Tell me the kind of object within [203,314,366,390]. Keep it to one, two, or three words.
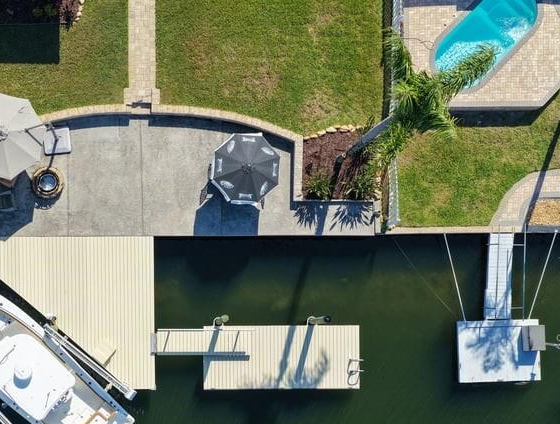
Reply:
pier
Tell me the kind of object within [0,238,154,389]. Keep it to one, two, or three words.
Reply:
pier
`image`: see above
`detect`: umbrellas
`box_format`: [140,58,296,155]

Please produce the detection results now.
[0,94,71,180]
[210,134,280,203]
